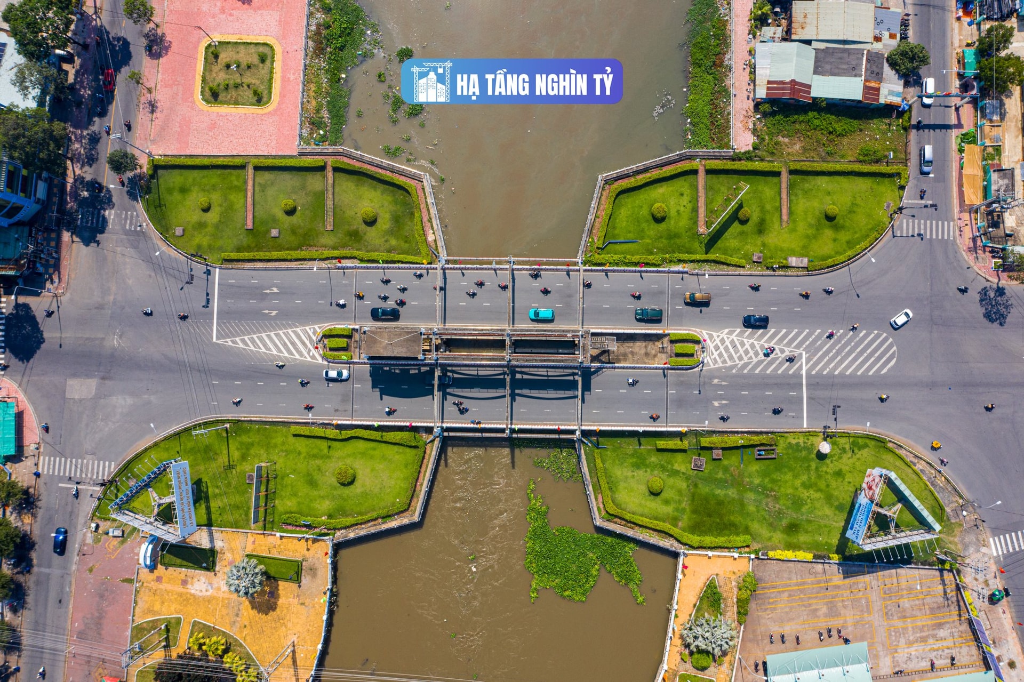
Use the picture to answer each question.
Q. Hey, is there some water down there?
Yes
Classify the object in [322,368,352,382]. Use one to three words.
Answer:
car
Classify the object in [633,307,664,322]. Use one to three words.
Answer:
car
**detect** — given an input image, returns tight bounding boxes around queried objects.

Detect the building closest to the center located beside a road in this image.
[361,329,435,358]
